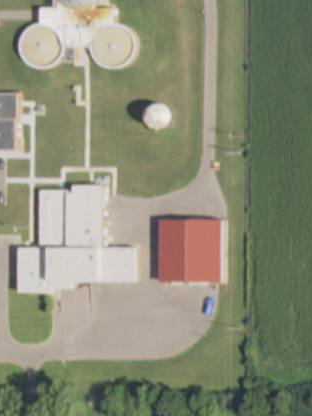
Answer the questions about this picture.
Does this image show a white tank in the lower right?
No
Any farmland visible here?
Yes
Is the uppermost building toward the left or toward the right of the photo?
left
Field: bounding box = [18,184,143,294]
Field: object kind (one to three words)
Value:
building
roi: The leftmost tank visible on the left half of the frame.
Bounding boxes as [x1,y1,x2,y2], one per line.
[19,22,68,68]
